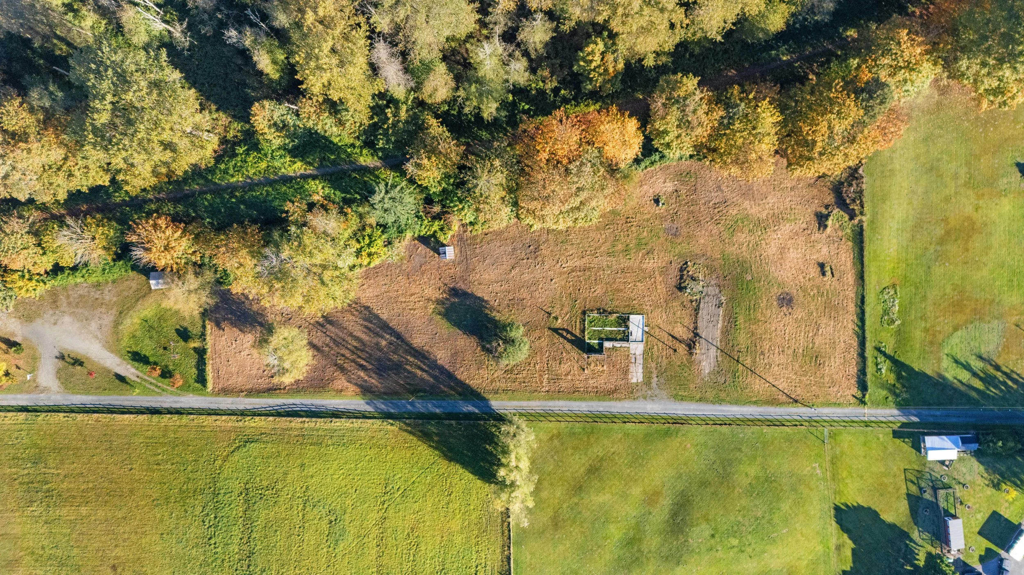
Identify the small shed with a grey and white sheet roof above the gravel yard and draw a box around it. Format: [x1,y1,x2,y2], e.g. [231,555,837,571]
[148,272,173,289]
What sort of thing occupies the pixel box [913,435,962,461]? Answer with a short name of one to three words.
shed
